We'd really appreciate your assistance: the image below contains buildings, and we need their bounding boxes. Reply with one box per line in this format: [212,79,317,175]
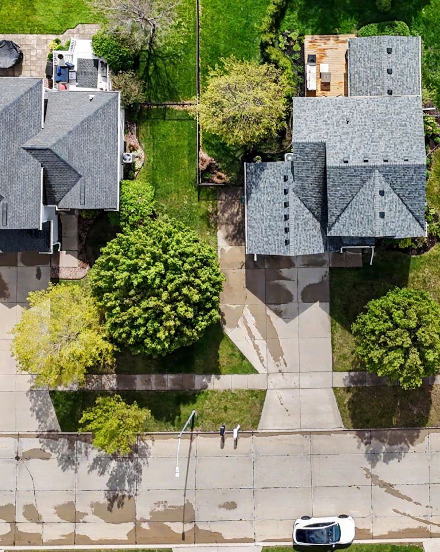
[0,77,126,257]
[244,34,427,261]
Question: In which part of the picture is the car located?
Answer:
bottom right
